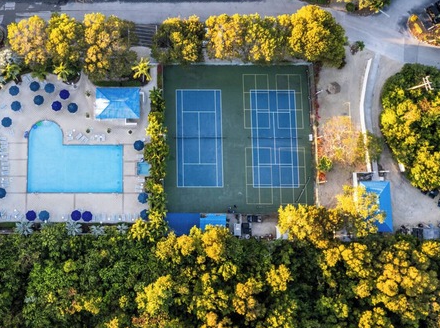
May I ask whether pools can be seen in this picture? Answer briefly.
Yes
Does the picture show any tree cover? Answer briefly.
Yes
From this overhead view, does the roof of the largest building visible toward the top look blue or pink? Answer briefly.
blue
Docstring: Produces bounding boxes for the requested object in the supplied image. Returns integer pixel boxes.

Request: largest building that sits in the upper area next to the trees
[96,87,144,126]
